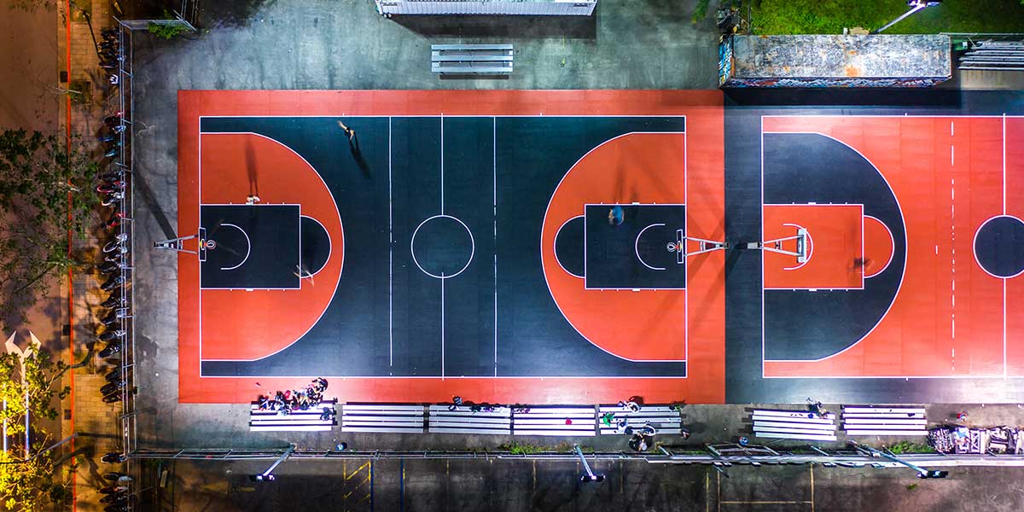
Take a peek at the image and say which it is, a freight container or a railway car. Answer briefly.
freight container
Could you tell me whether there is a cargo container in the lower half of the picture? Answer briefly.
No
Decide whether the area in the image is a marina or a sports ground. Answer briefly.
sports ground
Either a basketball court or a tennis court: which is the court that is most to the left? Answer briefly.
basketball court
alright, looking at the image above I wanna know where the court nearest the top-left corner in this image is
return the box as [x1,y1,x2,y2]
[178,90,725,404]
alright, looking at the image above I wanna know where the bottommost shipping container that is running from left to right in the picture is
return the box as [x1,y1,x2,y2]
[722,34,952,87]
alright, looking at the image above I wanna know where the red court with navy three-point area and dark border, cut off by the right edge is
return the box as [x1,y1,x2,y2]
[725,90,1024,404]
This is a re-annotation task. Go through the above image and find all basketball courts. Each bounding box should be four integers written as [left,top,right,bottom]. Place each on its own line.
[178,90,725,404]
[725,90,1024,404]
